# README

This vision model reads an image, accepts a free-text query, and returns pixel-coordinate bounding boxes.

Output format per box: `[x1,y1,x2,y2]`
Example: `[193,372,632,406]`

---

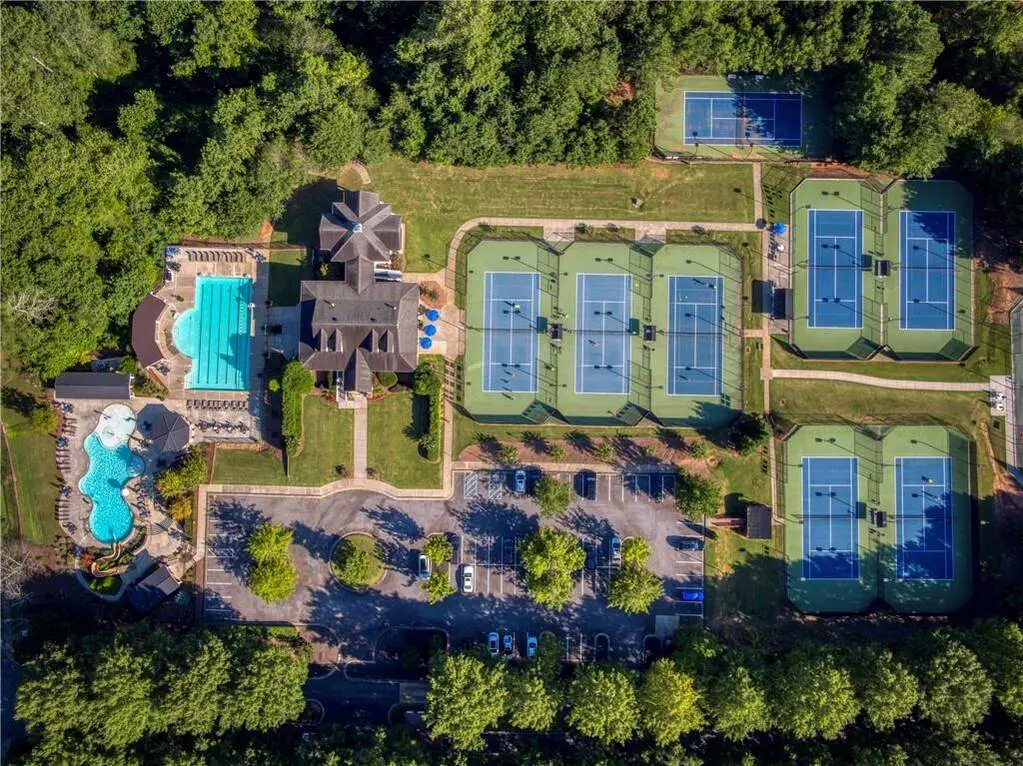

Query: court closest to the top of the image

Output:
[654,76,834,160]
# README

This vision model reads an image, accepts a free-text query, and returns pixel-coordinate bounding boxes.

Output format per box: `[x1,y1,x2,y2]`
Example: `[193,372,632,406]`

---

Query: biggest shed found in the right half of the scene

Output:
[744,506,771,539]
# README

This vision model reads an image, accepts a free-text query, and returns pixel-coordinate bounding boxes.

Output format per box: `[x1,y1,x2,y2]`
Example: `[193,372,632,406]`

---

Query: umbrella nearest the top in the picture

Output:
[772,222,786,236]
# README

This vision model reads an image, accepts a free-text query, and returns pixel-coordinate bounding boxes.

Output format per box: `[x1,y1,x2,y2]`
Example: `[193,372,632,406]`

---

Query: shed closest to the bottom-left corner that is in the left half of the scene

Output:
[126,565,186,613]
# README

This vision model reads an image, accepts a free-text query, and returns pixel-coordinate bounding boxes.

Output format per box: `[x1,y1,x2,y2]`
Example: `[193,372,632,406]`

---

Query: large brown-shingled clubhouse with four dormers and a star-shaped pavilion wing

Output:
[300,191,419,392]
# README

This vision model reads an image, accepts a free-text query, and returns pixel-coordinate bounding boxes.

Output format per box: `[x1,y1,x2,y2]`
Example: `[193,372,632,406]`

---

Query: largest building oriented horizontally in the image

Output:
[50,374,135,399]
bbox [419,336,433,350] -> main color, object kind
blue umbrella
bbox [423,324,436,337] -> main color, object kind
blue umbrella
